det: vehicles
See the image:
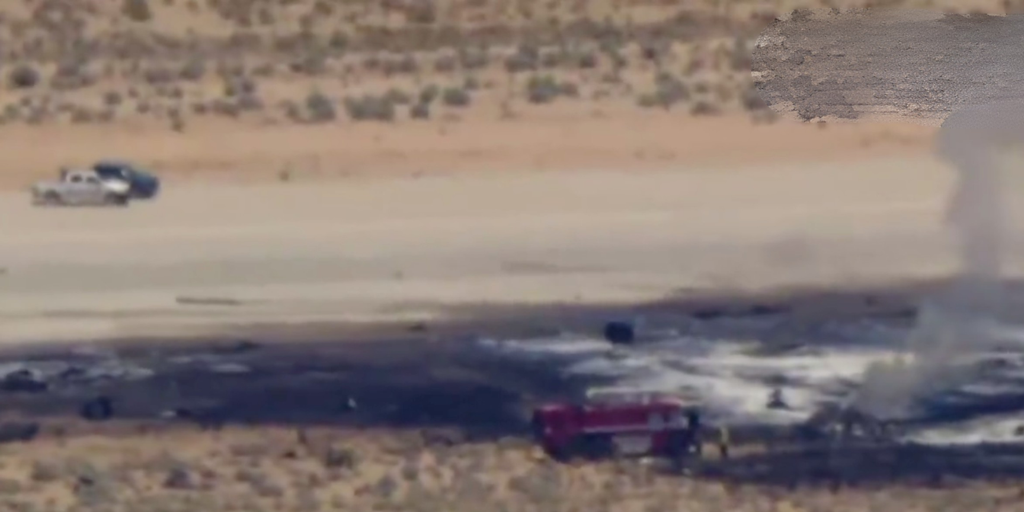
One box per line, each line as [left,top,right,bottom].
[534,393,703,460]
[91,155,160,189]
[29,169,131,205]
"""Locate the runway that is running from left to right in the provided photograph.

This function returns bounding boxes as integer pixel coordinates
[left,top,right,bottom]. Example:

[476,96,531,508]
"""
[0,145,1024,345]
